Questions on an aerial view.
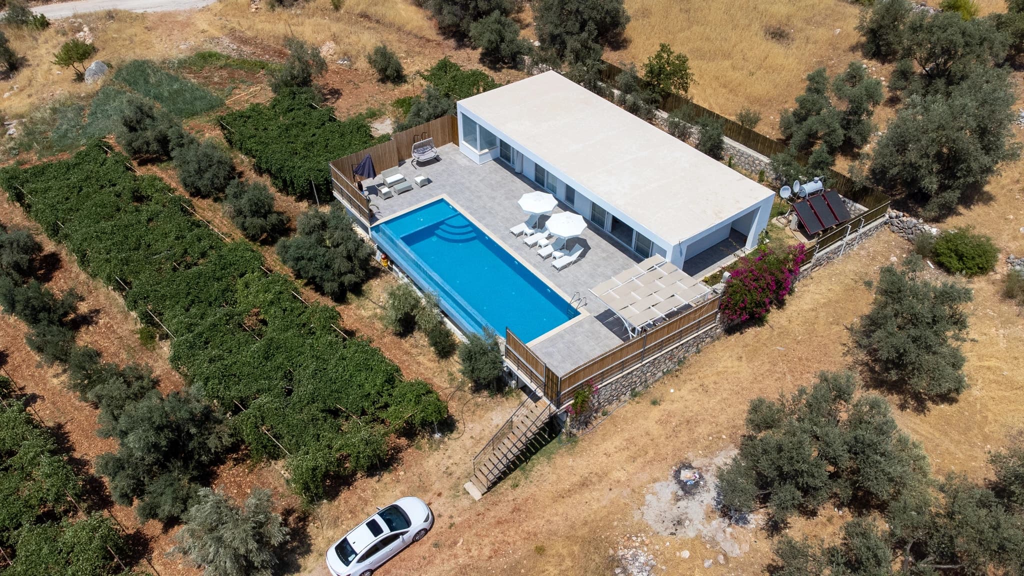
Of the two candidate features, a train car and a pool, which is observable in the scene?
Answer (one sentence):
The one in the frame is a pool.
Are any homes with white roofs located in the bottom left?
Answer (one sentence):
No, I see no home with a white roof in the bottom left.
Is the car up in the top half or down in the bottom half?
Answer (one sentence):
You can find the car in the bottom half.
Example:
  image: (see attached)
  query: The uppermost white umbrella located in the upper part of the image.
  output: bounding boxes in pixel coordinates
[518,187,560,216]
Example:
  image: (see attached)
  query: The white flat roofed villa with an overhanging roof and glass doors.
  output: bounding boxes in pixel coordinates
[457,71,776,297]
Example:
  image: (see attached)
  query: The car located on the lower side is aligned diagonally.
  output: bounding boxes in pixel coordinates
[321,492,435,576]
